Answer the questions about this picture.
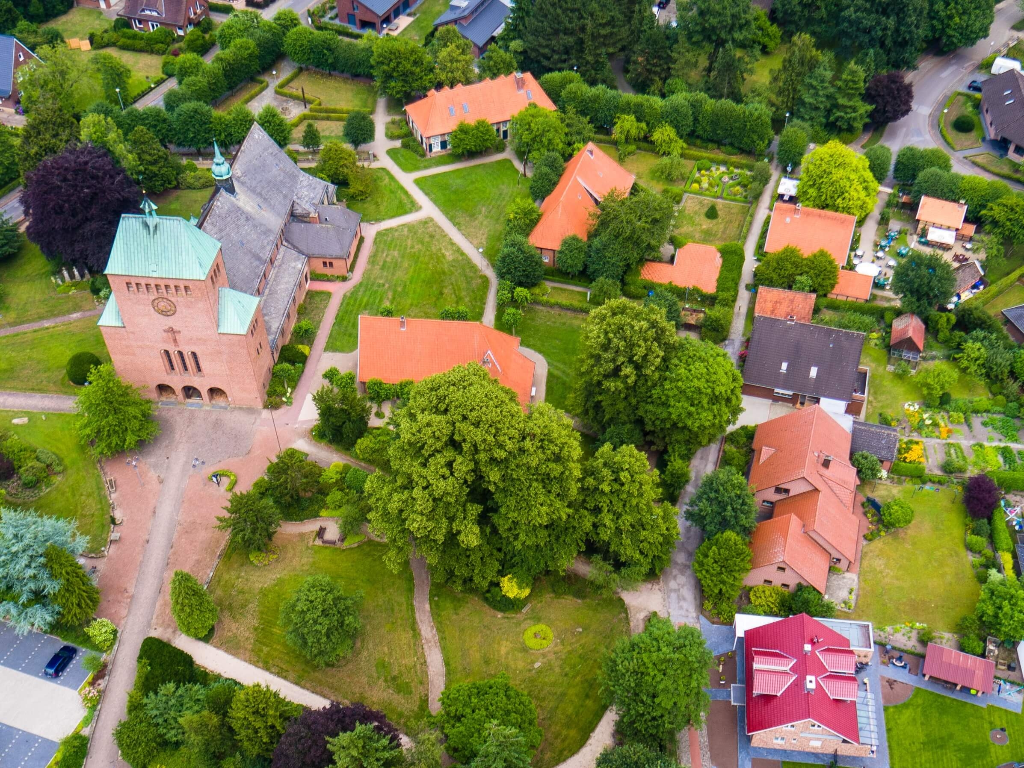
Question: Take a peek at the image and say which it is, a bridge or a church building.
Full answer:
Of the two, only a church building appears.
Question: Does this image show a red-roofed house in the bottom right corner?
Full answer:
Yes, the scene does show a red-roofed house in the bottom right corner.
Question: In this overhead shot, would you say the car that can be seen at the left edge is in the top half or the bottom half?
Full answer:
It is in the bottom half that the car that can be seen at the left edge appears.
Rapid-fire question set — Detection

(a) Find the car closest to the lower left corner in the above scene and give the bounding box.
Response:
[39,648,77,681]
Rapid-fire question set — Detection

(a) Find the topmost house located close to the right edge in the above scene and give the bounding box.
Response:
[980,68,1024,152]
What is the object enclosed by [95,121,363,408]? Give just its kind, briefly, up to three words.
church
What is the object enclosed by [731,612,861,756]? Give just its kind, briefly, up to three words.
house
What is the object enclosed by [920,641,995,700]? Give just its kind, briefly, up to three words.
building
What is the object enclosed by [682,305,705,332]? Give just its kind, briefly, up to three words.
shed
